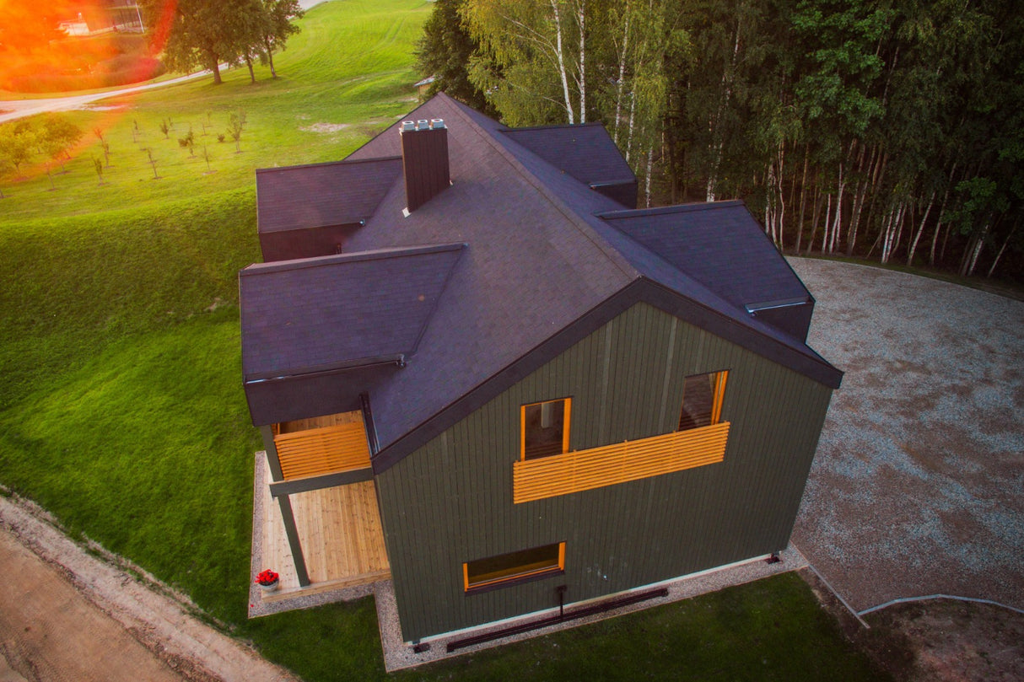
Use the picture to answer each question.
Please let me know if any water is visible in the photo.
No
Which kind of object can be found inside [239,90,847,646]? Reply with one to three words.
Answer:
house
